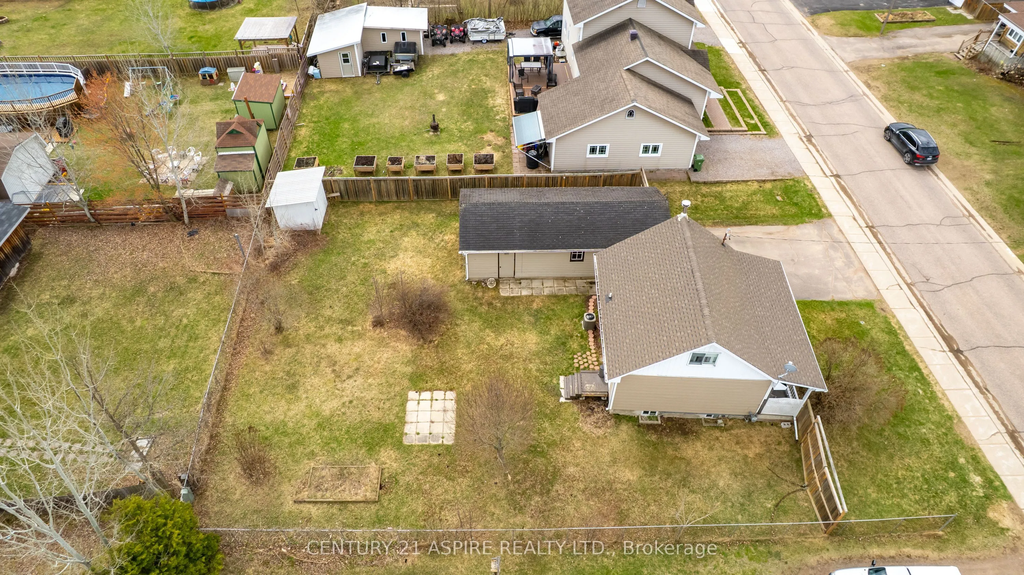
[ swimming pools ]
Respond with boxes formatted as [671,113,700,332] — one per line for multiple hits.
[0,59,88,110]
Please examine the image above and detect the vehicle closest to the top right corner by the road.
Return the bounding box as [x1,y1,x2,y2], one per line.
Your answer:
[885,126,940,167]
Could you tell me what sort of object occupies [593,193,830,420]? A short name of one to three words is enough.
house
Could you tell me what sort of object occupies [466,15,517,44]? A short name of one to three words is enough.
vehicle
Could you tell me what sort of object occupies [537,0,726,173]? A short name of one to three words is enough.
house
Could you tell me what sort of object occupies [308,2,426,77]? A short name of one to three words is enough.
building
